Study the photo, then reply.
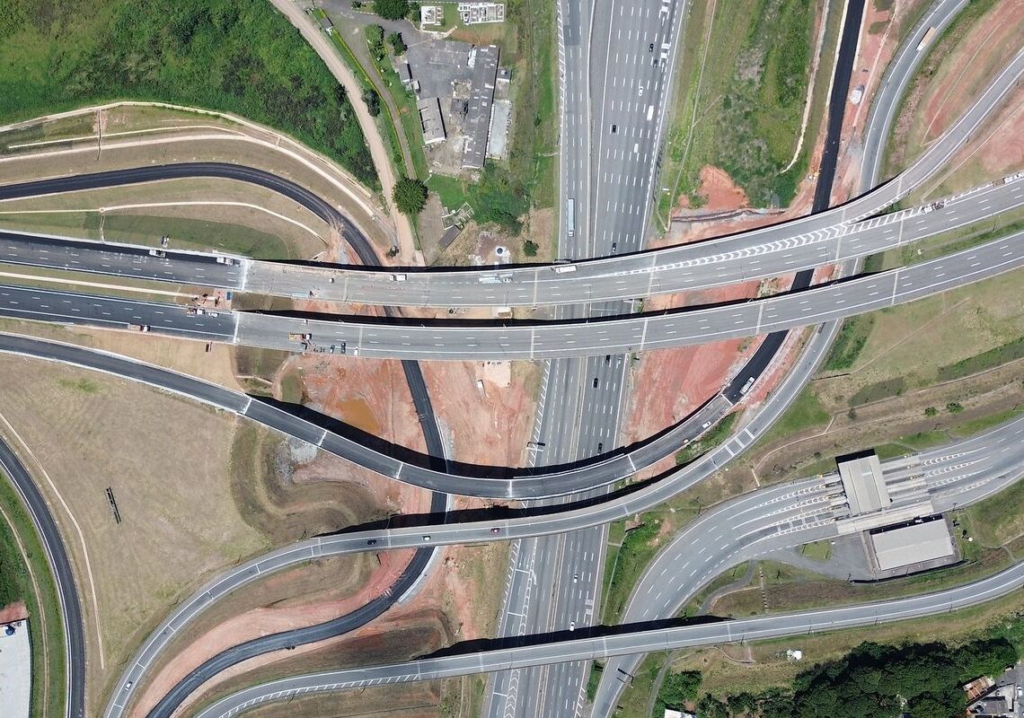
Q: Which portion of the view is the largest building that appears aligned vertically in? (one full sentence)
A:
Look in the top portion of the view to spot the largest building that appears aligned vertically.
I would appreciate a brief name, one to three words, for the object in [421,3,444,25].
house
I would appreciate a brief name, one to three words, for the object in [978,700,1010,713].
house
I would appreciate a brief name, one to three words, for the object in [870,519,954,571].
building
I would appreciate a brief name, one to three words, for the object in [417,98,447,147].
building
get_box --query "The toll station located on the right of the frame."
[820,453,924,521]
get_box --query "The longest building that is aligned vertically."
[462,41,500,170]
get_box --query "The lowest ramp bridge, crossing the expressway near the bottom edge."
[418,622,734,681]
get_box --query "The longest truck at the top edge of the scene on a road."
[916,22,937,49]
